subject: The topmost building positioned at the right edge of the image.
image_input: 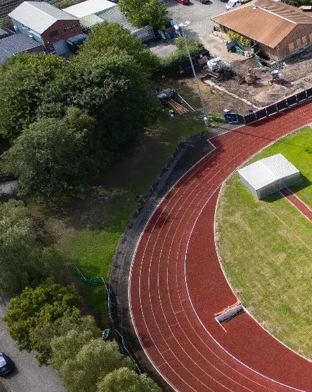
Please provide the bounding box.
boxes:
[210,0,312,60]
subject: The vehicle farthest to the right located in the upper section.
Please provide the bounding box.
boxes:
[268,64,293,84]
